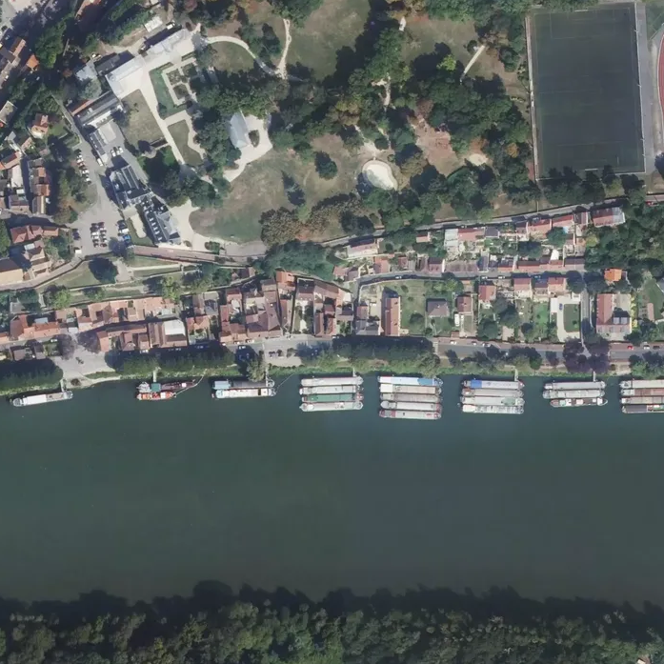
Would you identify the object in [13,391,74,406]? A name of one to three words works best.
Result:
ship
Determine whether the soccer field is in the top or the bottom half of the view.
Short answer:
top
